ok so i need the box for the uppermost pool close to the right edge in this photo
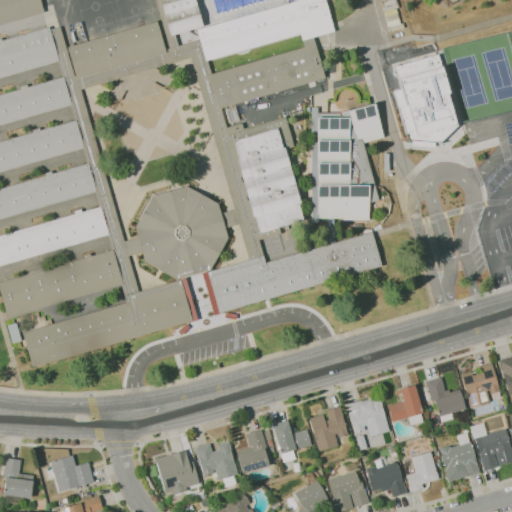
[474,400,500,418]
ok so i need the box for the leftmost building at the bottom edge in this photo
[4,459,34,499]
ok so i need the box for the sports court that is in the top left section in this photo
[54,0,160,45]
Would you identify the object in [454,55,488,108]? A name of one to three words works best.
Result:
tennis court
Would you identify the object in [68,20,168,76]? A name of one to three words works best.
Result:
building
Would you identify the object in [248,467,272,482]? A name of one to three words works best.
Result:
swimming pool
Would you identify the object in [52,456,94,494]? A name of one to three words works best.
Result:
house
